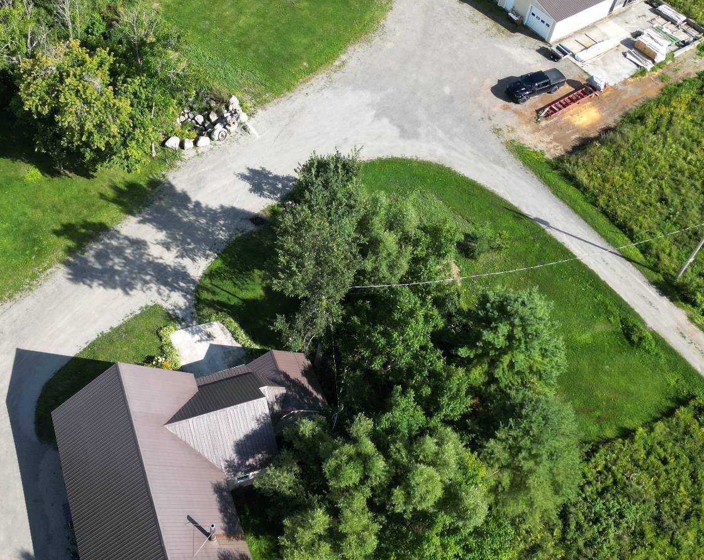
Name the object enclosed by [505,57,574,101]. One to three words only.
truck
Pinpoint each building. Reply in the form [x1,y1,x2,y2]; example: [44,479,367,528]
[494,0,636,40]
[53,349,329,560]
